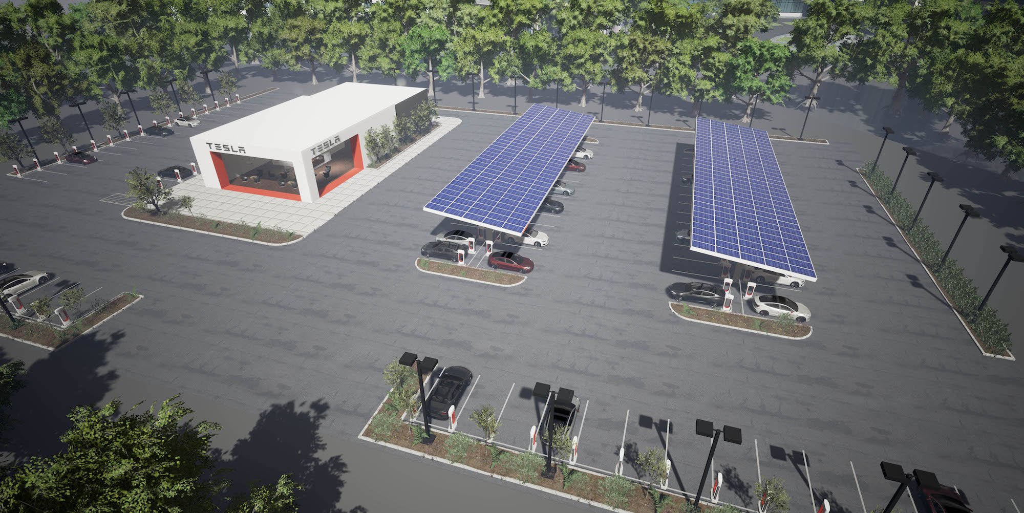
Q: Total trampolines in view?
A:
0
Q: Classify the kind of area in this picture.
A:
parking lot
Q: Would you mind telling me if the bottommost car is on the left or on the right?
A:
right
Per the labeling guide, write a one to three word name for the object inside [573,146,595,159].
vehicle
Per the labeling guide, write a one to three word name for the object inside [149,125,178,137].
vehicle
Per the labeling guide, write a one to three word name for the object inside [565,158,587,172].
car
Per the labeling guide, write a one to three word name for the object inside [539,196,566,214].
car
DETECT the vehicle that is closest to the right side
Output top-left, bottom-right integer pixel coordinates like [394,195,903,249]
[916,479,971,513]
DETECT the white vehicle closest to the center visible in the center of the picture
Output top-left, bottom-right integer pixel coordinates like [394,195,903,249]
[504,227,550,247]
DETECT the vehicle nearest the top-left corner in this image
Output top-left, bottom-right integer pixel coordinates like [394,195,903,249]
[64,152,99,166]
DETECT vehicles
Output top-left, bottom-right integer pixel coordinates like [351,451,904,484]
[149,125,178,137]
[485,250,535,273]
[565,158,587,172]
[160,165,195,180]
[433,228,479,247]
[539,196,566,214]
[504,227,550,247]
[573,146,595,159]
[421,240,468,261]
[683,175,693,186]
[174,116,202,127]
[916,479,971,513]
[64,152,99,166]
[0,271,47,301]
[750,293,812,320]
[750,269,805,288]
[425,365,470,418]
[0,261,13,273]
[667,280,725,306]
[550,180,576,196]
